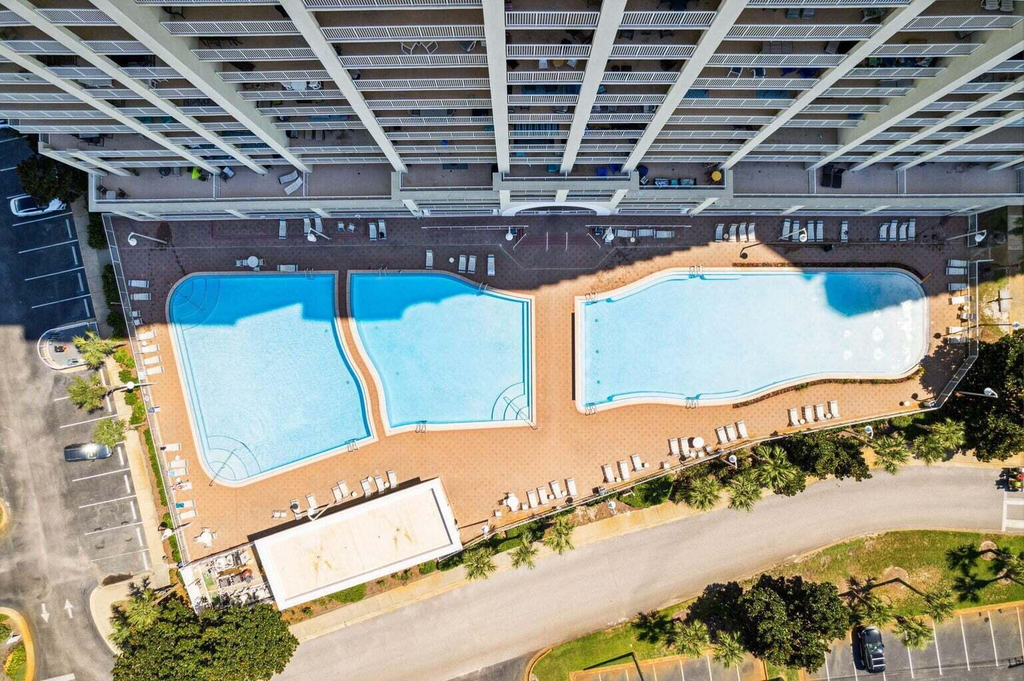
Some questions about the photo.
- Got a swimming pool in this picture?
Yes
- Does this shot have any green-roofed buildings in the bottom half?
No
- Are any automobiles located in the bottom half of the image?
Yes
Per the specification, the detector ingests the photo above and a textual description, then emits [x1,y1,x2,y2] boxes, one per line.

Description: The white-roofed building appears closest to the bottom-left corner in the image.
[254,475,463,610]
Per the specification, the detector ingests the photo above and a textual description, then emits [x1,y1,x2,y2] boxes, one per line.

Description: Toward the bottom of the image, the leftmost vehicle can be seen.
[64,440,120,464]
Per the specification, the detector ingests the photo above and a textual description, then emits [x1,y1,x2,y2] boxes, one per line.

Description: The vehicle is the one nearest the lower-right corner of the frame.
[856,619,885,673]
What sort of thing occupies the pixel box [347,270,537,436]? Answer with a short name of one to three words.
swimming pool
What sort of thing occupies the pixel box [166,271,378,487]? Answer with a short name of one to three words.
swimming pool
